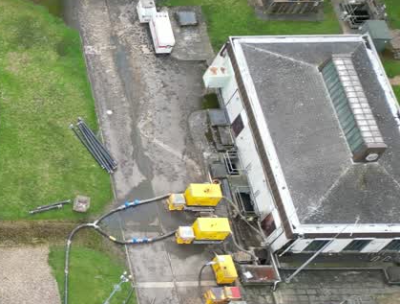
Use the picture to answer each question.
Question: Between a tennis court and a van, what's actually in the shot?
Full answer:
The image shows a van.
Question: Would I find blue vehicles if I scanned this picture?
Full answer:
No, the photo shows no blue vehicle.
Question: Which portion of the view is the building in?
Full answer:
The building sits in the right section of the image.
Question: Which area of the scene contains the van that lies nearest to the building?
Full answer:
You can find the van that lies nearest to the building in the top area of the picture.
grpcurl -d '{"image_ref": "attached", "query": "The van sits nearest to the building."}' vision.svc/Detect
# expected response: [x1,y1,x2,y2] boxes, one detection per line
[147,13,183,60]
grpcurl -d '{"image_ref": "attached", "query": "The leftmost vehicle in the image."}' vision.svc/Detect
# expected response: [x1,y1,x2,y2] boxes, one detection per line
[133,0,164,30]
